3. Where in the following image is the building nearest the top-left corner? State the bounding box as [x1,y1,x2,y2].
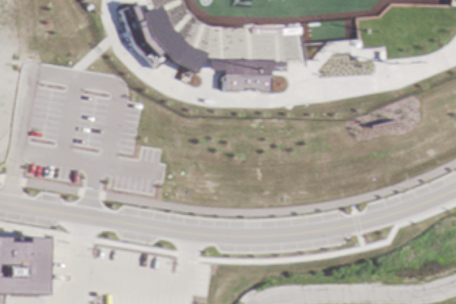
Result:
[116,4,166,67]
